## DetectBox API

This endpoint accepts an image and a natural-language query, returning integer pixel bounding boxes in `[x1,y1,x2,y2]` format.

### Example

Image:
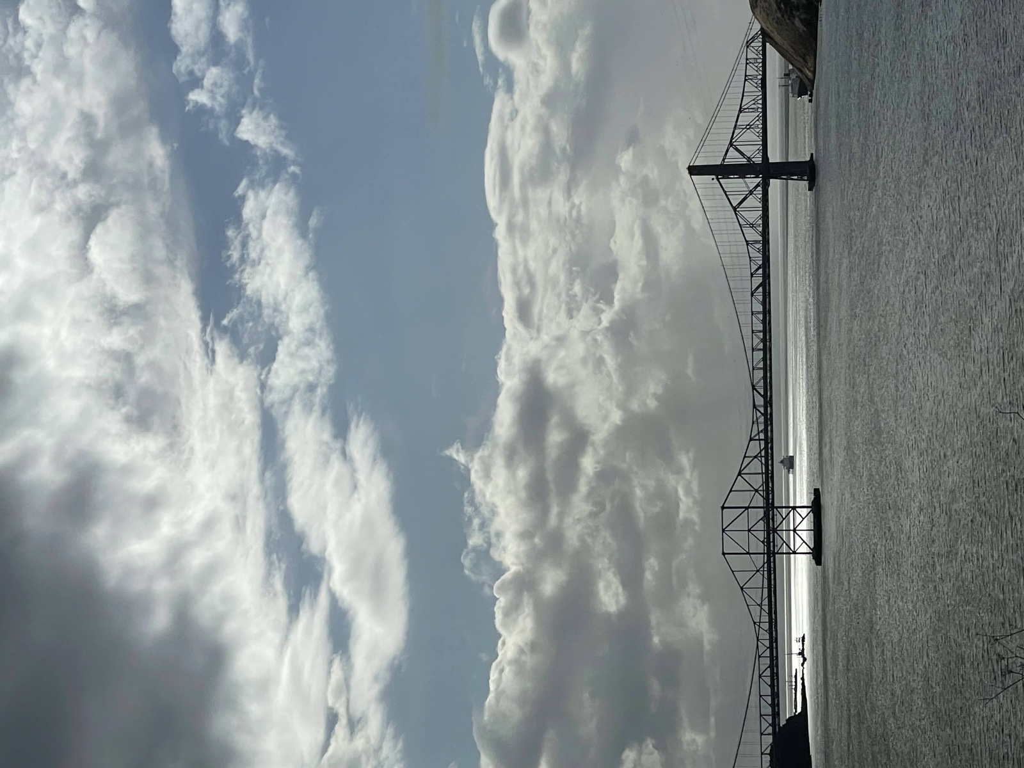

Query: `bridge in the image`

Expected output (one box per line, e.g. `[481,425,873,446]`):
[715,26,820,768]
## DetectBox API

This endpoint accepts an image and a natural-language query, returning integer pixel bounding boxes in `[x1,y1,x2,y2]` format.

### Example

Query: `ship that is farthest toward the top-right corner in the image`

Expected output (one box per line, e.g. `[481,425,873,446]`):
[778,63,808,99]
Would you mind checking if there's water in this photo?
Yes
